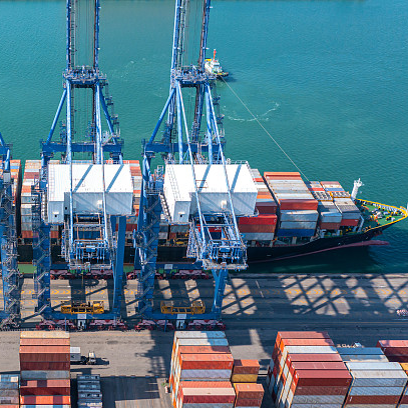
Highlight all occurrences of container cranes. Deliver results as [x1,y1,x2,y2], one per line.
[31,0,138,328]
[0,112,25,327]
[129,0,260,328]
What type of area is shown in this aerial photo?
port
